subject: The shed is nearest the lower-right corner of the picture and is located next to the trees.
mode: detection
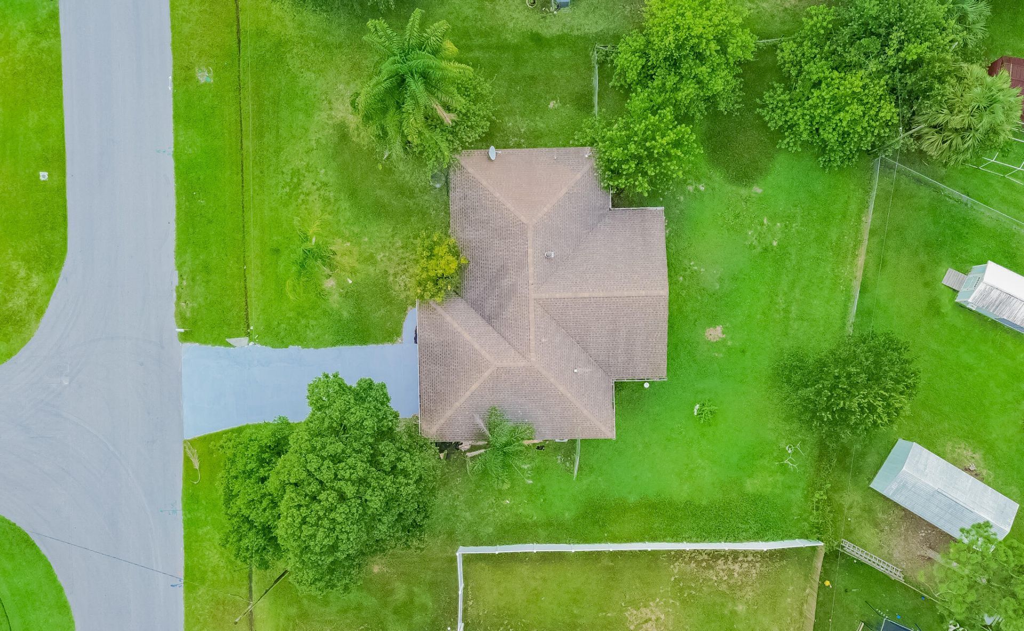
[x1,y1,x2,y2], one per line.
[869,438,1018,555]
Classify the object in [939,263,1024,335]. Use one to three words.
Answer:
shed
